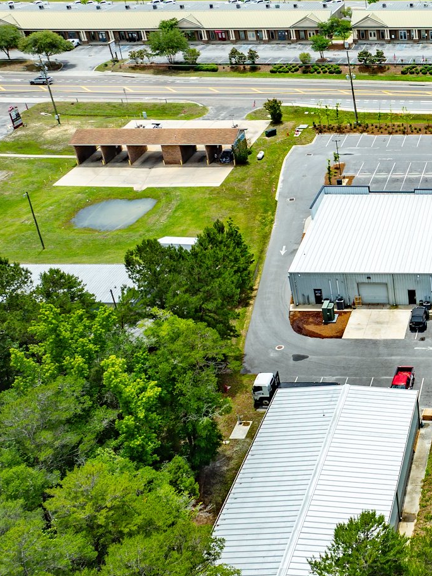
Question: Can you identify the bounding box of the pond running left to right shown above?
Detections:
[71,198,157,231]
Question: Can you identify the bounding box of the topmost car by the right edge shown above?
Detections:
[408,304,428,332]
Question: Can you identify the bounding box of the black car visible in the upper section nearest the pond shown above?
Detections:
[215,151,231,166]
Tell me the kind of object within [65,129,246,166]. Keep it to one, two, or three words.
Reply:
building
